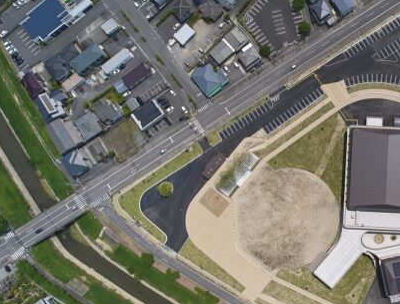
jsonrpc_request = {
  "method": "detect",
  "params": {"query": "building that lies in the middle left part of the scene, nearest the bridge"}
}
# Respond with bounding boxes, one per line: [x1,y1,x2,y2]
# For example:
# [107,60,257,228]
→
[60,150,93,178]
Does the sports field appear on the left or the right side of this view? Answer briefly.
right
